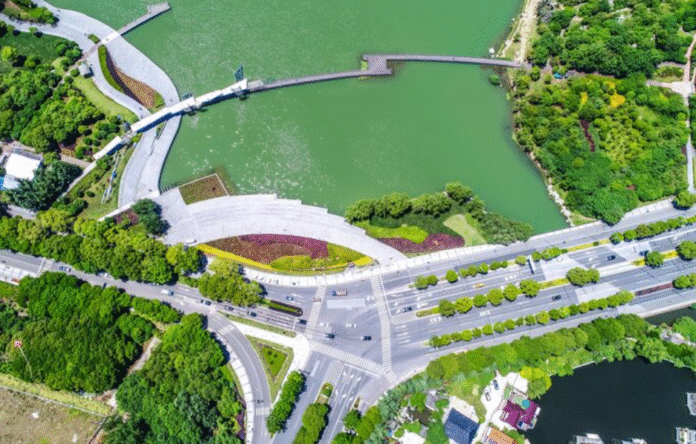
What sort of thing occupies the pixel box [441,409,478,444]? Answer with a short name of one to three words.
house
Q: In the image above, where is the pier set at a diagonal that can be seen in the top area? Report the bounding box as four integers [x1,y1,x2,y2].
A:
[117,0,171,37]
